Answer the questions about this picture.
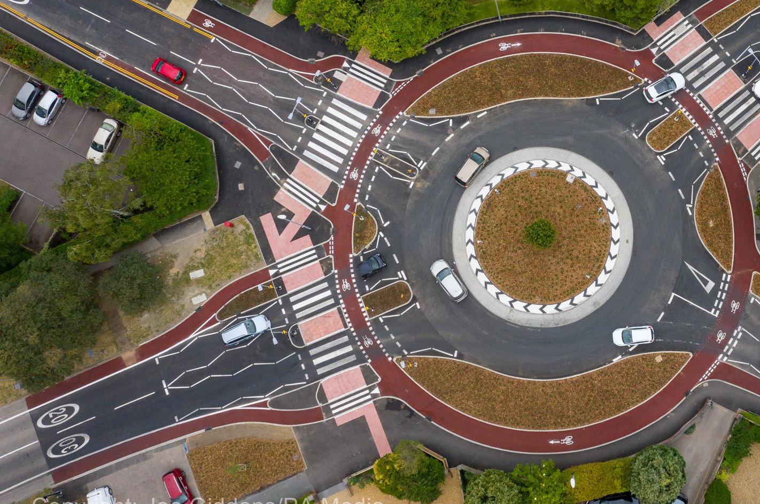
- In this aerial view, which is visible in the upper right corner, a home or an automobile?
automobile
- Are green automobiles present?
No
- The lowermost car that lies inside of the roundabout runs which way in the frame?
from left to right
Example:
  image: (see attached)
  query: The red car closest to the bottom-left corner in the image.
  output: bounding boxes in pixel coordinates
[159,469,196,504]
